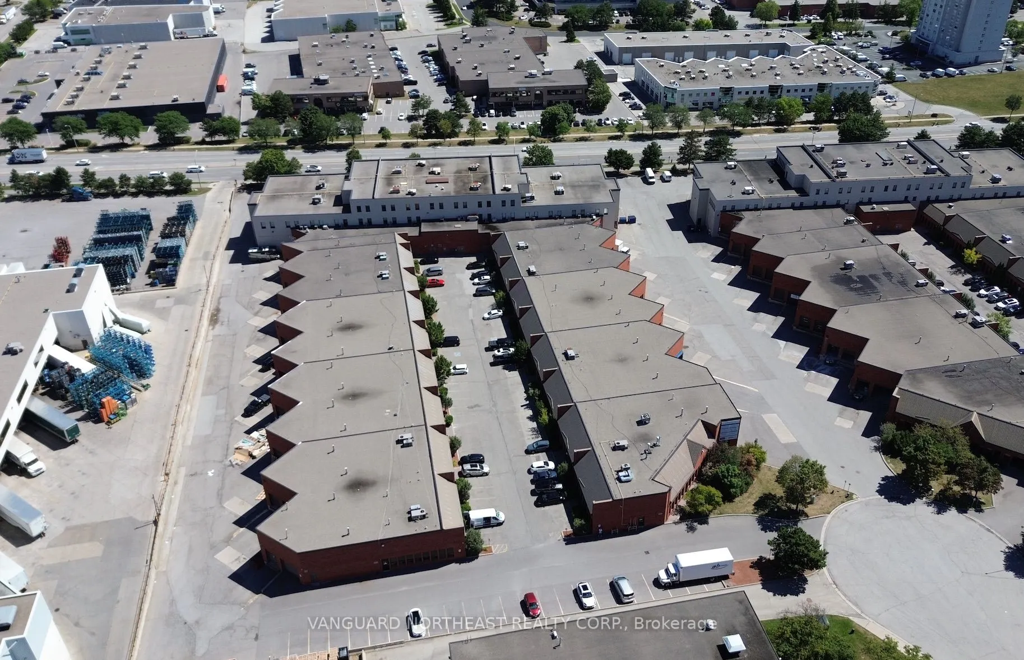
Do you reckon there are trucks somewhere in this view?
Yes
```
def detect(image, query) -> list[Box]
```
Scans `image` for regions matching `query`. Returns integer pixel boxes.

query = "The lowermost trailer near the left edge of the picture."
[0,551,29,593]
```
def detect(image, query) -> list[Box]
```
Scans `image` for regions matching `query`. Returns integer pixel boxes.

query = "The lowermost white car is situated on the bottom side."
[407,606,427,637]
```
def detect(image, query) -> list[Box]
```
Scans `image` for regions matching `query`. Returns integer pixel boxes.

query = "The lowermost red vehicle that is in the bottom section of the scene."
[523,591,542,619]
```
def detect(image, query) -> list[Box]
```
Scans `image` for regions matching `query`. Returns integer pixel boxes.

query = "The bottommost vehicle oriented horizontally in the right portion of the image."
[658,546,733,586]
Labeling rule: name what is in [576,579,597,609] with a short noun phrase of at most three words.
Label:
car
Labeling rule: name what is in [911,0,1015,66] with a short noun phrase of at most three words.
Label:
building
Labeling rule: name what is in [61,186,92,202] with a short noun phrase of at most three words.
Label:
vehicle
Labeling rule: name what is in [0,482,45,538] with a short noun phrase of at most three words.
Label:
trailer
